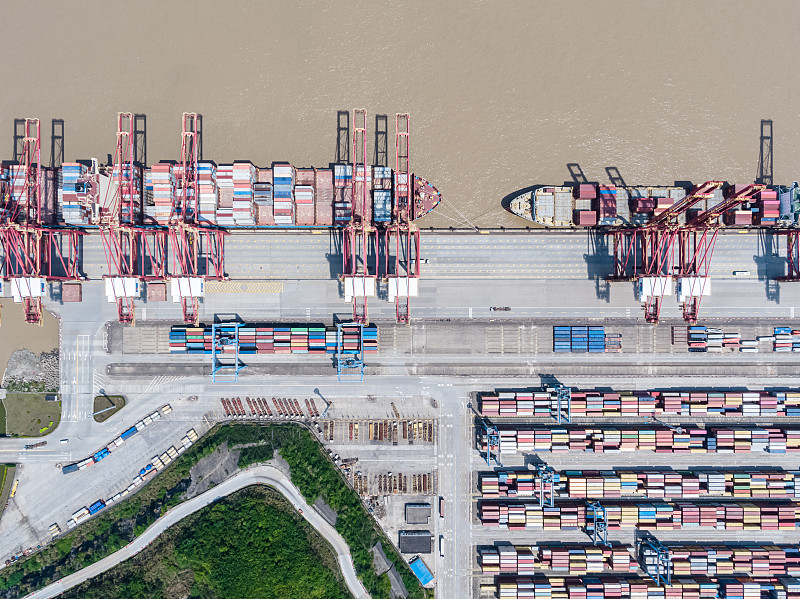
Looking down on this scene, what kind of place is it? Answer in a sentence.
It's a port.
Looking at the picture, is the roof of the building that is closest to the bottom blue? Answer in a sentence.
Yes, the roof of the building that is closest to the bottom appears blue.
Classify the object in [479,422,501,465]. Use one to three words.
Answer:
container crane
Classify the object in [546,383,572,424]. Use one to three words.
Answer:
container crane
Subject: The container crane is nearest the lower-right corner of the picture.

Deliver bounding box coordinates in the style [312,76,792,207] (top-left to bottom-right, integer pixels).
[640,535,672,587]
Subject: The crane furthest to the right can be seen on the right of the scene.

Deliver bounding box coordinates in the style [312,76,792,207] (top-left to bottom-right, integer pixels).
[767,226,800,281]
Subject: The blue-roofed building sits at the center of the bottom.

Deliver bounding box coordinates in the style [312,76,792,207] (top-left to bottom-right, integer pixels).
[409,555,434,587]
